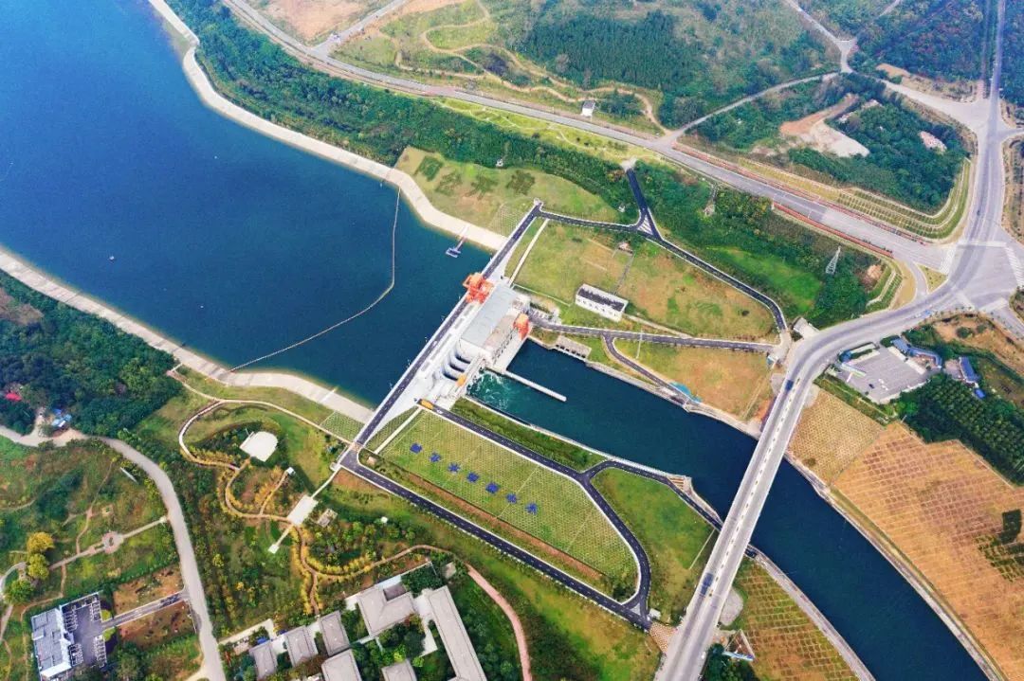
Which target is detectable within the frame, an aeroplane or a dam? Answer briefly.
dam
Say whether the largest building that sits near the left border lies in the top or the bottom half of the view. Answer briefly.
bottom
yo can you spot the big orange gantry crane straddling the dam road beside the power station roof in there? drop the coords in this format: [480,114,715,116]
[457,271,493,307]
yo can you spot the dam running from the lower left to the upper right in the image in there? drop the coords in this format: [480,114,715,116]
[362,233,526,430]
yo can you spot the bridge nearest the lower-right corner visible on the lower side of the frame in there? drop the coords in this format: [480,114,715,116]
[654,299,934,681]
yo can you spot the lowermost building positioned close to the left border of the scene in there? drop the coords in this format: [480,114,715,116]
[30,608,72,676]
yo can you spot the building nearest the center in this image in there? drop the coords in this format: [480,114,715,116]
[458,280,540,373]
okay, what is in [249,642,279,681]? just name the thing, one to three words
building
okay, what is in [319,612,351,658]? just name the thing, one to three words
building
